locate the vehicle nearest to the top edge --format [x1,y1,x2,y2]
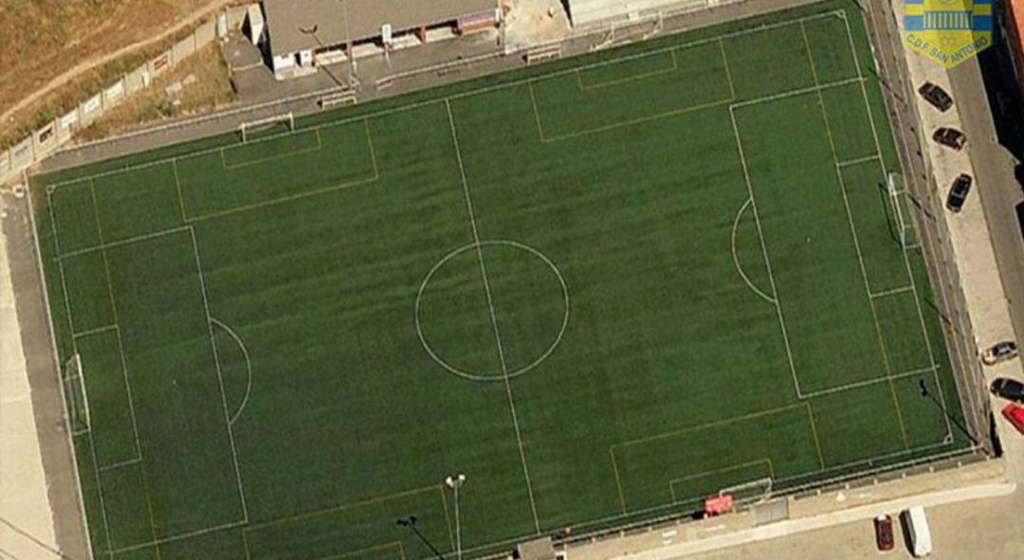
[919,80,954,109]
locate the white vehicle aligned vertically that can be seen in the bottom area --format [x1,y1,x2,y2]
[907,513,929,560]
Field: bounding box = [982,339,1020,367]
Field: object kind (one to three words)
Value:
car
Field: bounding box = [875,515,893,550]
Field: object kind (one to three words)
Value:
car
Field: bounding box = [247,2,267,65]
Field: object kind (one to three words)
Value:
shed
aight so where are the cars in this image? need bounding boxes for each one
[947,175,971,212]
[919,80,954,109]
[982,339,1020,367]
[875,515,893,550]
[1005,408,1024,433]
[990,378,1024,406]
[932,126,968,152]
